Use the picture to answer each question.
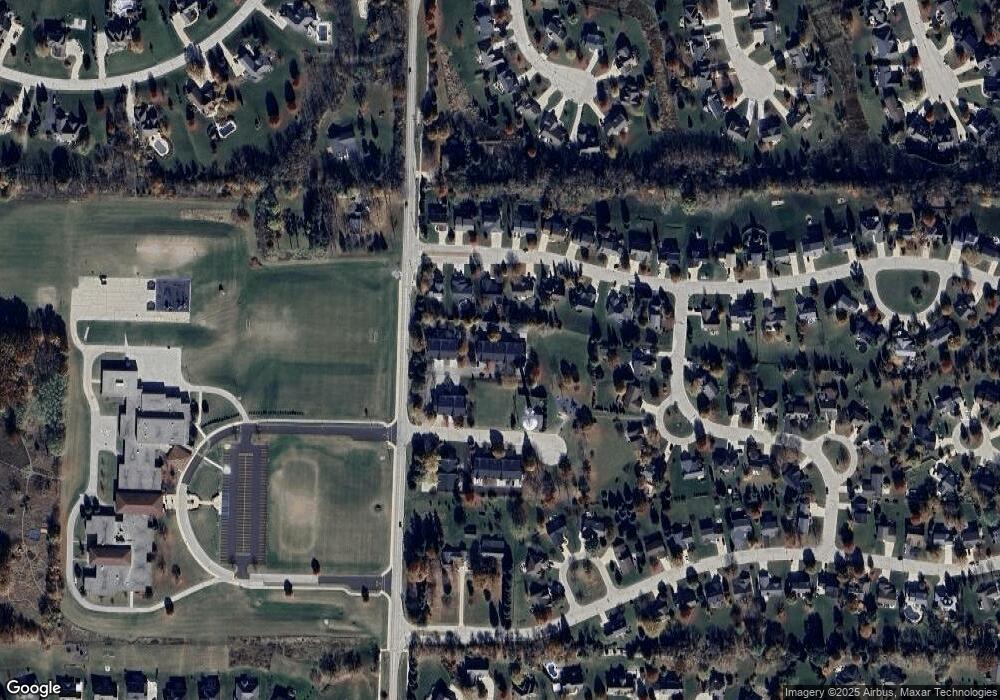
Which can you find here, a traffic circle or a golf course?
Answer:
traffic circle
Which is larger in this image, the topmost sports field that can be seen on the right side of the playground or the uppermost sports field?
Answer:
the topmost sports field that can be seen on the right side of the playground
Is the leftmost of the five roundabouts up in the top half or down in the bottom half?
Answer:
bottom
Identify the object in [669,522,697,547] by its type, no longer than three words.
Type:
house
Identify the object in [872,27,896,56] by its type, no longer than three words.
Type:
house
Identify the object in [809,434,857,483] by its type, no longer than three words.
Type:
roundabout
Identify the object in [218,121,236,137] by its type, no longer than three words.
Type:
swimming pool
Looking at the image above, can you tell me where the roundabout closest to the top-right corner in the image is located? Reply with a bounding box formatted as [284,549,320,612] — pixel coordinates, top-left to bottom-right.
[865,268,949,323]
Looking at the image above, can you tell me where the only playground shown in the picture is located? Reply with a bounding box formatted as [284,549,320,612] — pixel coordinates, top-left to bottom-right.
[156,279,190,312]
